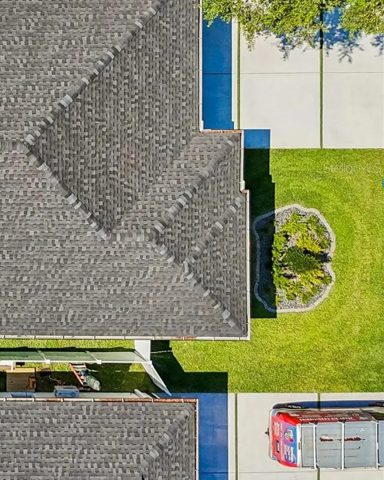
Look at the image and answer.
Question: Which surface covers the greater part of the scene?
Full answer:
The bulk of the photo consists of buildings.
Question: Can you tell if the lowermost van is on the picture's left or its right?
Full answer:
The lowermost van appears in the right half of the scene.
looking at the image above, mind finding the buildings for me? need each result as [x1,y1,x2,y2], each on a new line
[0,0,250,340]
[0,390,198,480]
